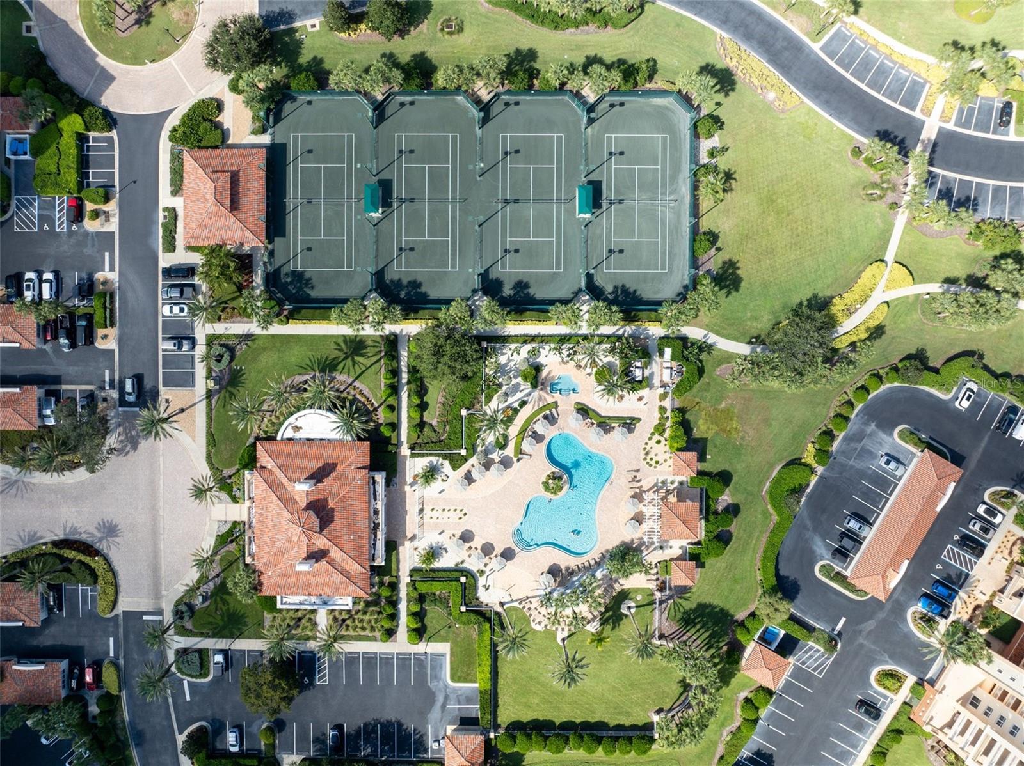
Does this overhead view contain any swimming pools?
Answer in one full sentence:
Yes, you can see a swimming pool in this photo.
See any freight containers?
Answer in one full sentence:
No, no freight container is visible in the view.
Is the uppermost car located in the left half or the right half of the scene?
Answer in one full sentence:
It is on the right.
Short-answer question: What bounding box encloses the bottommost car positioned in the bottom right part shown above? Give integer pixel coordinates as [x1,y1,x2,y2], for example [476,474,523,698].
[856,699,885,721]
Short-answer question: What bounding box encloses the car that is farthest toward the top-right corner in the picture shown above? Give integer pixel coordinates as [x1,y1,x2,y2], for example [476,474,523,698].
[998,98,1018,127]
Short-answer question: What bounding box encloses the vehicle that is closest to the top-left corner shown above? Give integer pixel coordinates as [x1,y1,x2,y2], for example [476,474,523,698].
[64,198,80,225]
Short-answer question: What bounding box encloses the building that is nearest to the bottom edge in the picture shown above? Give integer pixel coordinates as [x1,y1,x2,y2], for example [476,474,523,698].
[444,726,484,766]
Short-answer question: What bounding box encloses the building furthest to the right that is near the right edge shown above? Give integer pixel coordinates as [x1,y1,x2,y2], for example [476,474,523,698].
[905,559,1024,766]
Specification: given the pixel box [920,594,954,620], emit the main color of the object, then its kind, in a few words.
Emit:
blue truck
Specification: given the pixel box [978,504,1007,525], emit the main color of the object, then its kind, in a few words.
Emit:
white car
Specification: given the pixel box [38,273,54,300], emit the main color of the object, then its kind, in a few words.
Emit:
white car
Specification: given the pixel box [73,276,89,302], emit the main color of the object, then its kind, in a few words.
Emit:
black car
